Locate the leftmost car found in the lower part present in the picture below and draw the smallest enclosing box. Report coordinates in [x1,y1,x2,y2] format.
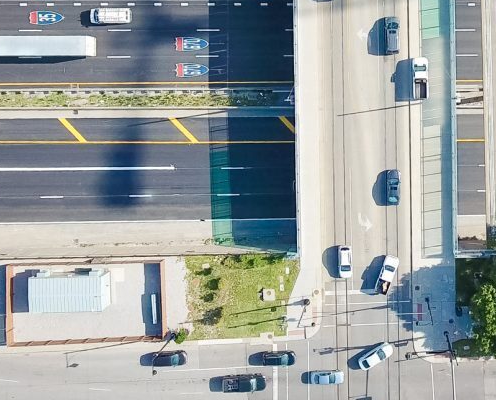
[151,349,188,367]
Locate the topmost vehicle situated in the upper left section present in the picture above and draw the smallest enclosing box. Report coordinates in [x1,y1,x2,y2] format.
[91,6,133,25]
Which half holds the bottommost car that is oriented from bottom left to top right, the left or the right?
right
